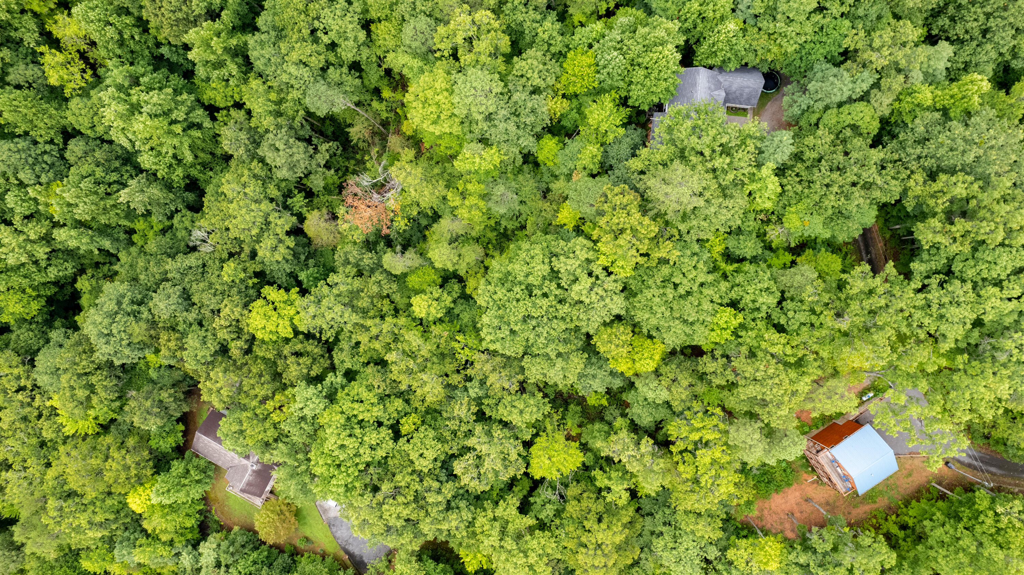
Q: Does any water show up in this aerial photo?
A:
No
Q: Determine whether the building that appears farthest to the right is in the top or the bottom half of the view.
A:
bottom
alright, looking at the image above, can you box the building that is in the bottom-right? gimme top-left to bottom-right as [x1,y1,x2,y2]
[800,421,899,497]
